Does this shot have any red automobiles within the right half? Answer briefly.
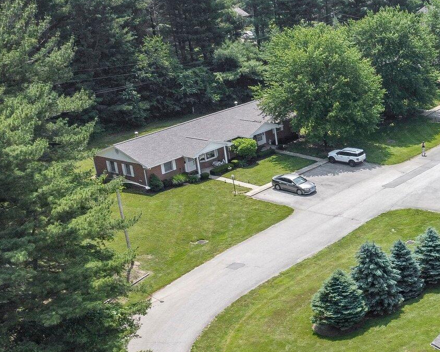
No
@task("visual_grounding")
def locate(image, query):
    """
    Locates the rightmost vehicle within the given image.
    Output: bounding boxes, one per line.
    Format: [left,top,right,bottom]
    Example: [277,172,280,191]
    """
[326,145,368,168]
